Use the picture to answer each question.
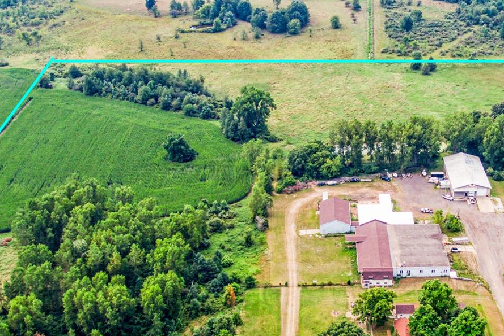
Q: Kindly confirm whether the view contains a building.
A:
Yes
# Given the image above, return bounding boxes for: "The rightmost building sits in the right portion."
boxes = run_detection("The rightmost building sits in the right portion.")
[443,154,492,201]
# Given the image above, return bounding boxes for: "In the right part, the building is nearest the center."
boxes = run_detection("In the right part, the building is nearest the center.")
[316,198,351,234]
